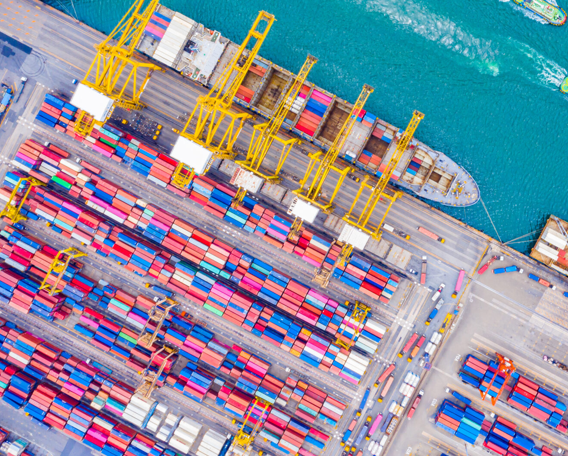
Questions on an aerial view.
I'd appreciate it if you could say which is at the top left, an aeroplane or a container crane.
container crane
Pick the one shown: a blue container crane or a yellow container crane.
yellow container crane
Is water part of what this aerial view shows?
Yes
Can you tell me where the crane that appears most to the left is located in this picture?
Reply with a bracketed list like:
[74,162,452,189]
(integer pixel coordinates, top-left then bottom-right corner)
[0,175,53,222]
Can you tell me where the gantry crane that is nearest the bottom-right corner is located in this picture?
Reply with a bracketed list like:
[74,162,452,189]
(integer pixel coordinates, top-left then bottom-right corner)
[472,347,514,403]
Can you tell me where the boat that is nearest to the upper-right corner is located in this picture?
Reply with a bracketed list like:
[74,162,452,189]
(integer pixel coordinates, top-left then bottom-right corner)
[511,0,567,27]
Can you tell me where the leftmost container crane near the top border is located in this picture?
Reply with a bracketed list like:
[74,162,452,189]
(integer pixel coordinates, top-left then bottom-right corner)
[67,0,169,137]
